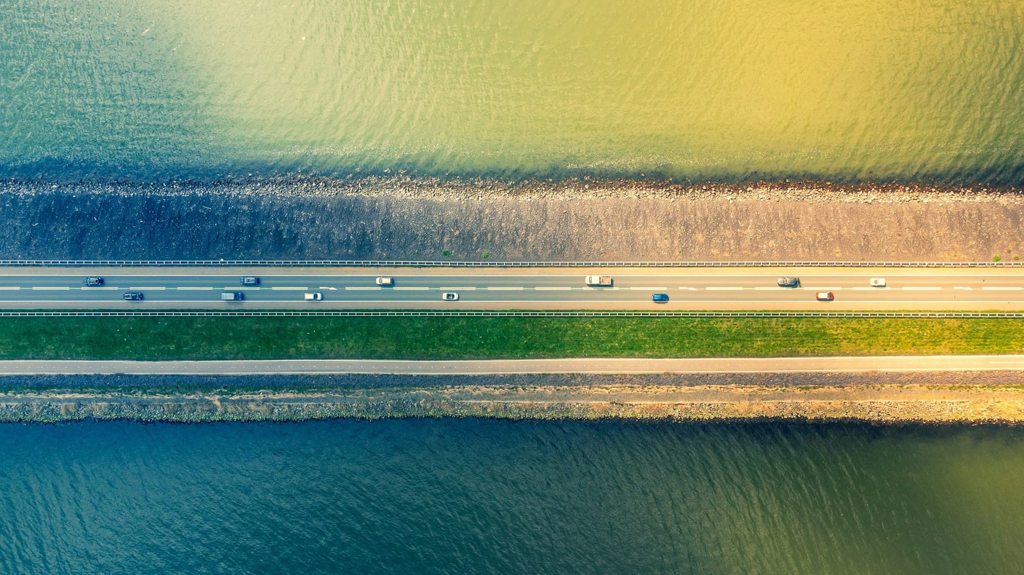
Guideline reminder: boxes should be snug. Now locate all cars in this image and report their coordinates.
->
[240,276,259,285]
[304,292,323,301]
[651,293,668,301]
[869,278,886,286]
[442,292,458,300]
[123,292,143,301]
[777,277,797,285]
[376,277,393,285]
[815,292,832,300]
[84,277,102,285]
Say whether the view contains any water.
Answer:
Yes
